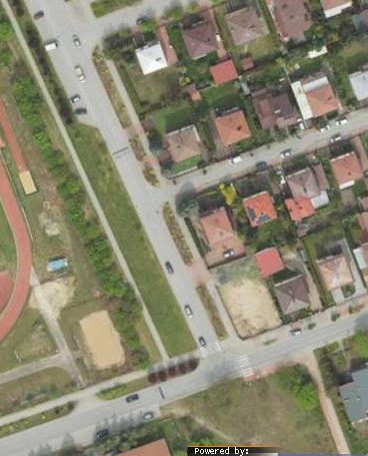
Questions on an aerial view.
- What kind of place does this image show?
residential area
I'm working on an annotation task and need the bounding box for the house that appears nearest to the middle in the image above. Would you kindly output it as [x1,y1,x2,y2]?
[200,208,237,245]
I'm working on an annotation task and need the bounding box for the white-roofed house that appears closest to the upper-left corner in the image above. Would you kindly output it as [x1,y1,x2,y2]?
[136,40,170,74]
